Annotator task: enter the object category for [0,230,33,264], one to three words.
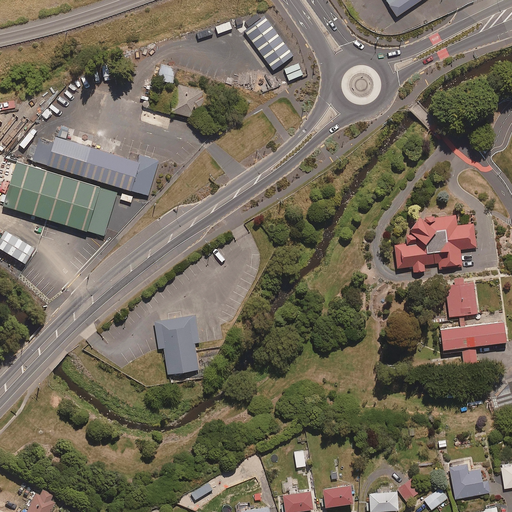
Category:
shed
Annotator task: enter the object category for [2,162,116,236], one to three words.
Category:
building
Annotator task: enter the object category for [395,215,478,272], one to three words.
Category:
house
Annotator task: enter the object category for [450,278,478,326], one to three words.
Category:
house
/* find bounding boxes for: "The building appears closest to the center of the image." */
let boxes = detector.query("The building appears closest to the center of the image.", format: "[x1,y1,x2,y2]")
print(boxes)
[154,316,199,376]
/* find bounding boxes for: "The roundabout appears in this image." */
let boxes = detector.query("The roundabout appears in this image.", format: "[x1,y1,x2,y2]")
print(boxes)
[342,65,381,104]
